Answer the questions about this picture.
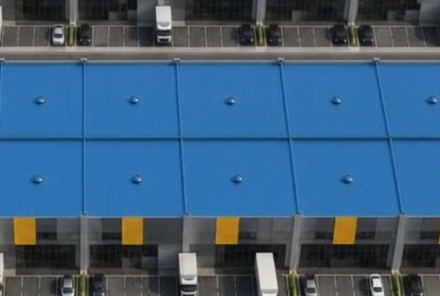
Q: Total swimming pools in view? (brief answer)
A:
0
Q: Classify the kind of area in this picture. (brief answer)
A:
industrial area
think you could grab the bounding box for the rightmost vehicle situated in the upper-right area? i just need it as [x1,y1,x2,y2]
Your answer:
[360,24,373,46]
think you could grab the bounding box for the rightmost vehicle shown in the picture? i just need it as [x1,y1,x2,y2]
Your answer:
[408,274,425,296]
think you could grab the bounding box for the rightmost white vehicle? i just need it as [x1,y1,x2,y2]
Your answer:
[370,276,385,296]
